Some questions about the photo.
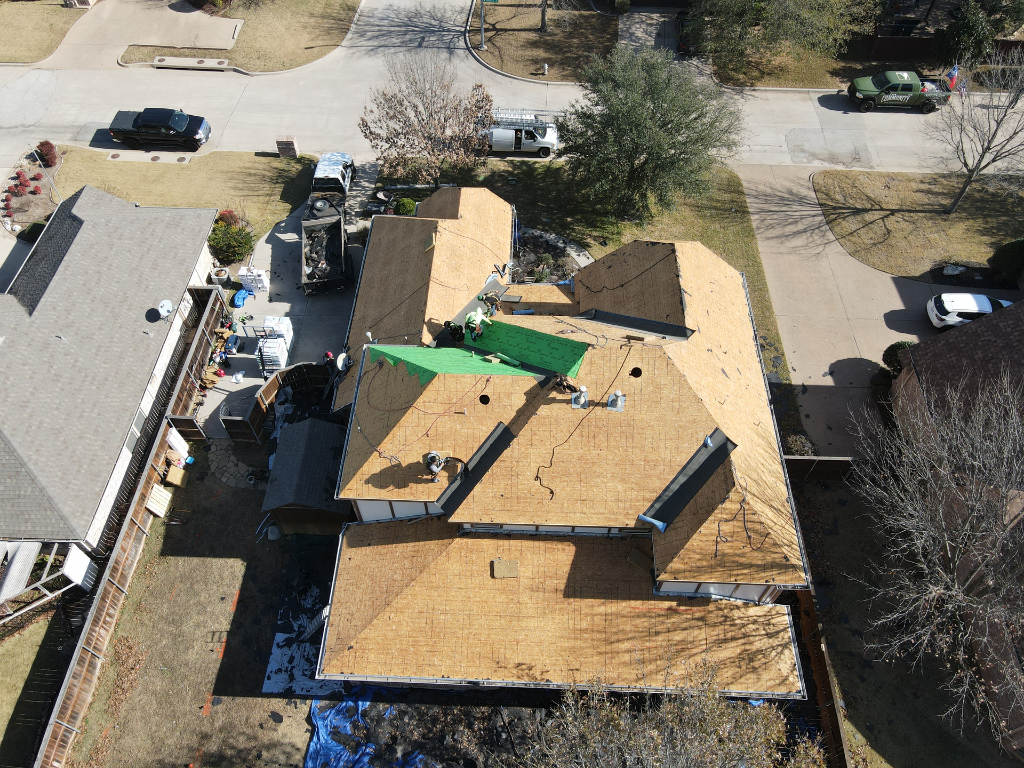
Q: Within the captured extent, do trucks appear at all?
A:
Yes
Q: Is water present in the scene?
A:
No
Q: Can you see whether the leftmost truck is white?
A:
No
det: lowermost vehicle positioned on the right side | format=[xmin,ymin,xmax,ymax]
[913,290,1009,334]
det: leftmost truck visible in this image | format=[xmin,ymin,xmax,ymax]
[110,107,216,153]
